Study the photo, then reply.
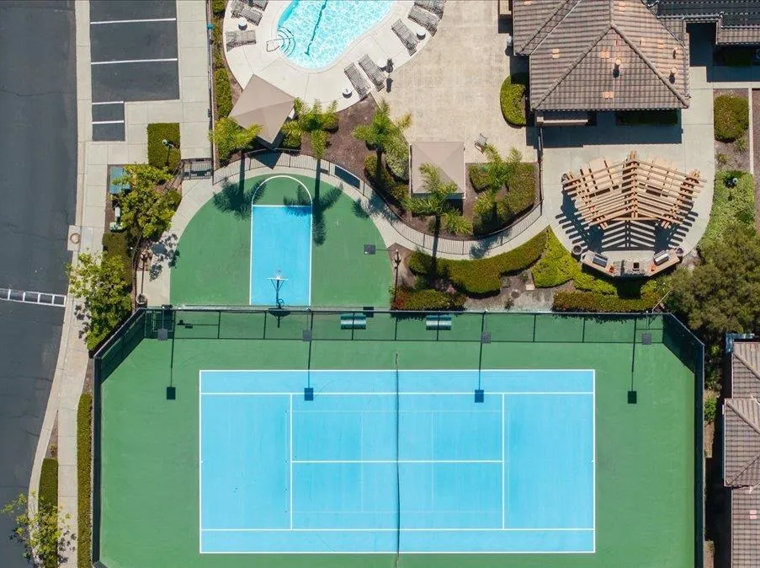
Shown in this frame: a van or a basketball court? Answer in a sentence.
Of the two, only a basketball court appears.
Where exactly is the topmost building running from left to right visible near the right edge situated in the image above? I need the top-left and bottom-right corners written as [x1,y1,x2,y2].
[499,0,760,128]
